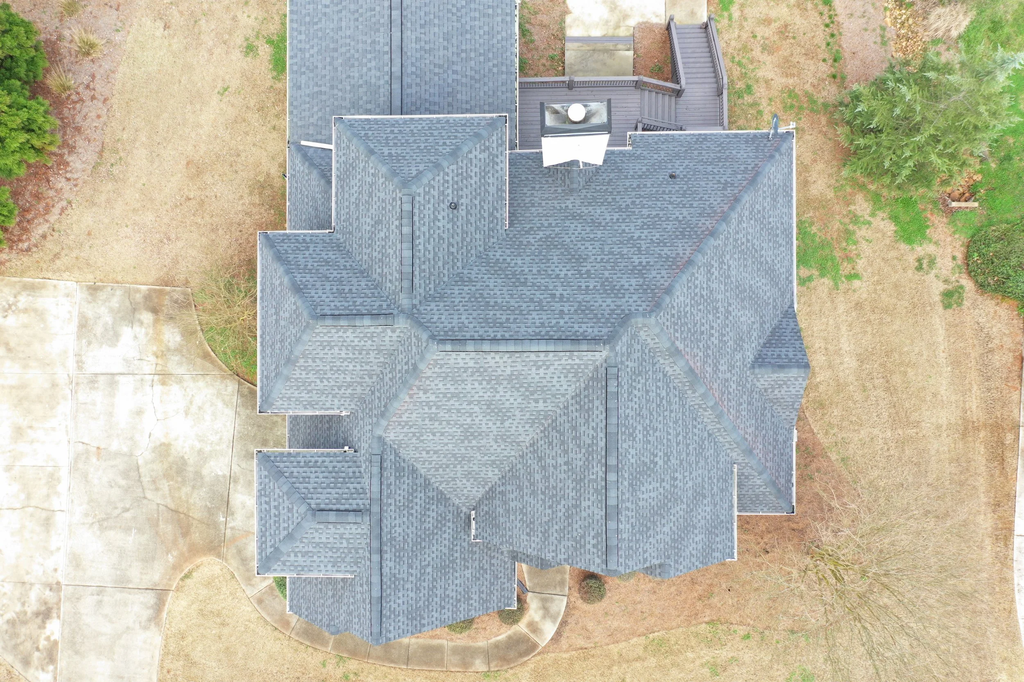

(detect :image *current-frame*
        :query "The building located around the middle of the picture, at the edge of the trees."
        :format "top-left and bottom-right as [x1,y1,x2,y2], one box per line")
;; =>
[253,0,809,647]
